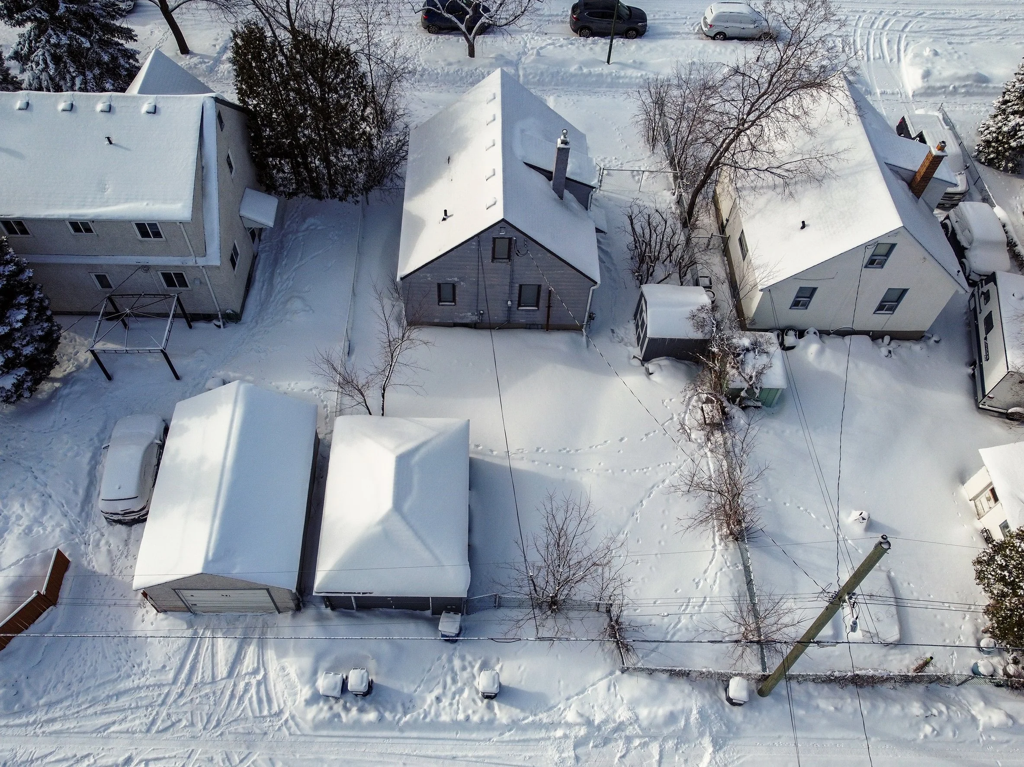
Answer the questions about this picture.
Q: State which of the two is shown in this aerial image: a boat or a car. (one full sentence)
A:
Looking from above, you can make out a car.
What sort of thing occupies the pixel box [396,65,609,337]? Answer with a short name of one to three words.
house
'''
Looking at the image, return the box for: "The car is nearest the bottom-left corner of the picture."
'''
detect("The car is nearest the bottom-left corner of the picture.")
[90,415,171,526]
